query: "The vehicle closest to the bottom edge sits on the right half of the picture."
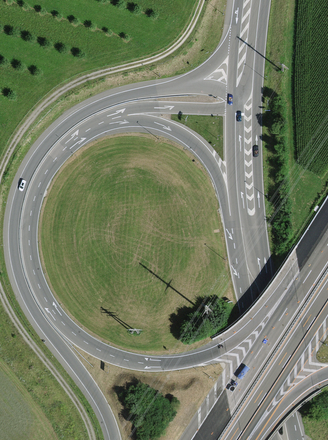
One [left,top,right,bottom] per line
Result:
[233,363,250,386]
